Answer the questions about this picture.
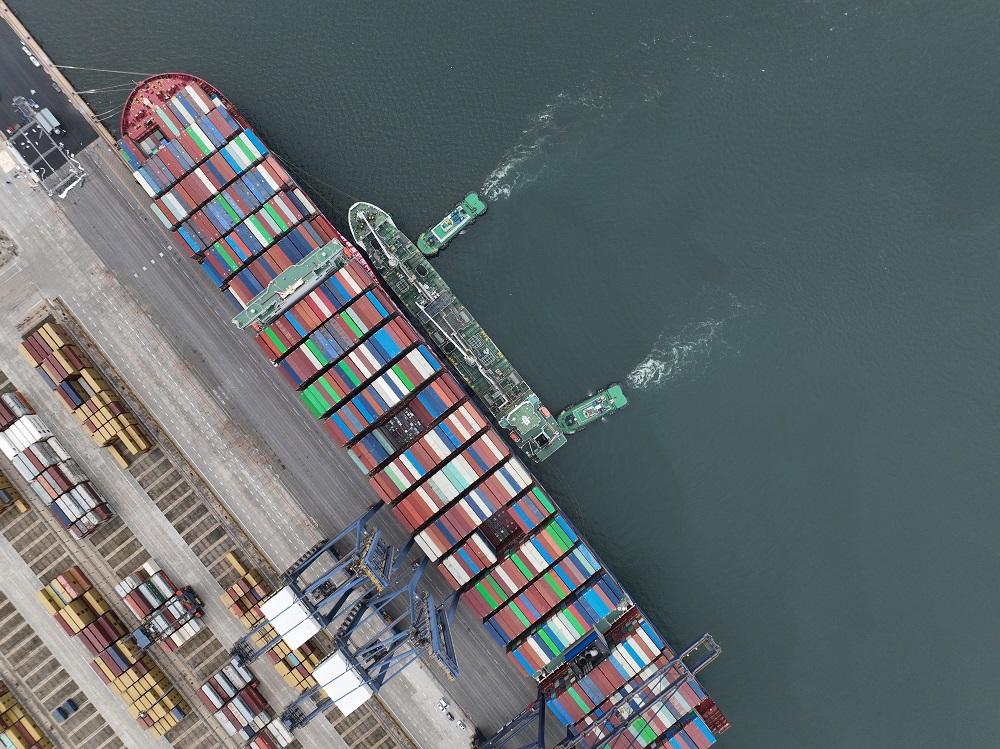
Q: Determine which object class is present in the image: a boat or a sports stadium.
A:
boat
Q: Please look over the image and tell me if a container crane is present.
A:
Yes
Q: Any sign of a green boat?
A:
Yes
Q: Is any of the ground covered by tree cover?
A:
No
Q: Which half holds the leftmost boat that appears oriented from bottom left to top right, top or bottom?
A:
top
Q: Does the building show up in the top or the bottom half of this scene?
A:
top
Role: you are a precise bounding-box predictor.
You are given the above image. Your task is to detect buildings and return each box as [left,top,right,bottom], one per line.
[34,106,65,137]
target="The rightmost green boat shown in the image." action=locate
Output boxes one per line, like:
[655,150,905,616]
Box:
[555,381,630,434]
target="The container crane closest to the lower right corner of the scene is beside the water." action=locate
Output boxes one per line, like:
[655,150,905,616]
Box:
[464,632,720,749]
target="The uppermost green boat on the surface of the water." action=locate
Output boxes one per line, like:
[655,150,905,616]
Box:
[417,191,485,256]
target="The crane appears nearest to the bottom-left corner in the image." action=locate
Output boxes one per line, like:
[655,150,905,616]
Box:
[115,591,196,660]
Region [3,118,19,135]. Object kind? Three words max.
vehicle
